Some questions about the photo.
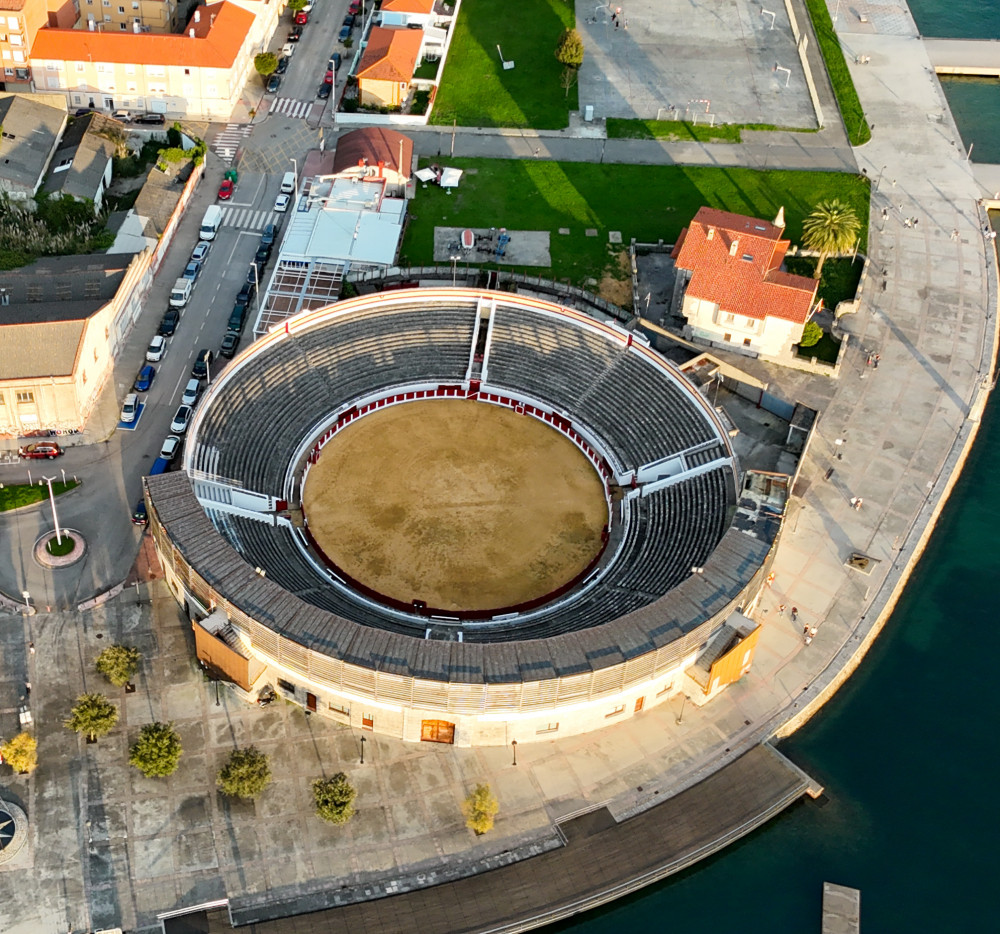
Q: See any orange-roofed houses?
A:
Yes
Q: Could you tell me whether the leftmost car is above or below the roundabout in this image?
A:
above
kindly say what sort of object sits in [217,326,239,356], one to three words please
car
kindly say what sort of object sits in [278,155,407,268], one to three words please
building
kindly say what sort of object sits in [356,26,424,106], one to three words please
house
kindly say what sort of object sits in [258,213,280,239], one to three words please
car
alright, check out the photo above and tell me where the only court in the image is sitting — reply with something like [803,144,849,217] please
[573,0,815,124]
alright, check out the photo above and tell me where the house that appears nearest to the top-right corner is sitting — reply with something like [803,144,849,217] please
[670,206,818,355]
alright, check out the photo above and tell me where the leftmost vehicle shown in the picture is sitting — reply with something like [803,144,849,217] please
[20,438,62,458]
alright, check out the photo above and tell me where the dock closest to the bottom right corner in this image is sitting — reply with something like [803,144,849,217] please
[819,882,859,934]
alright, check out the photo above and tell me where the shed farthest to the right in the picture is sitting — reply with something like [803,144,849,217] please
[784,401,819,448]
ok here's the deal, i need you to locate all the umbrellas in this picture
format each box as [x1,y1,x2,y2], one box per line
[411,164,440,191]
[437,170,466,194]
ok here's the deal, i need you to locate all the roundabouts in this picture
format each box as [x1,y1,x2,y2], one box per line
[30,526,90,571]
